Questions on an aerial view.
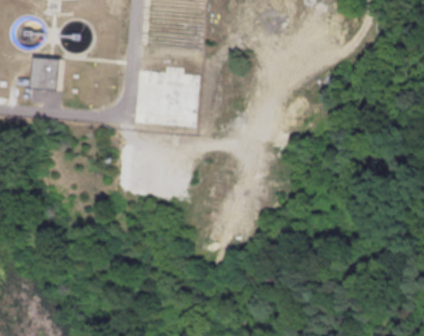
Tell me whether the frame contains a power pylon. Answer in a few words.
No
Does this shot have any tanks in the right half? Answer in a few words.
No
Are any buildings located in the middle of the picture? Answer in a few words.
No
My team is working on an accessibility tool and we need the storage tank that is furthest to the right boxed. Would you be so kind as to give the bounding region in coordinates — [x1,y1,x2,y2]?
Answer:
[58,18,96,56]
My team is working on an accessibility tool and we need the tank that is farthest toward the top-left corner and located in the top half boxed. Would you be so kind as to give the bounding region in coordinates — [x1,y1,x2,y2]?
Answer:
[9,14,48,52]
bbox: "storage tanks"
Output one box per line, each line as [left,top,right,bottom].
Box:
[9,14,48,52]
[58,18,96,56]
